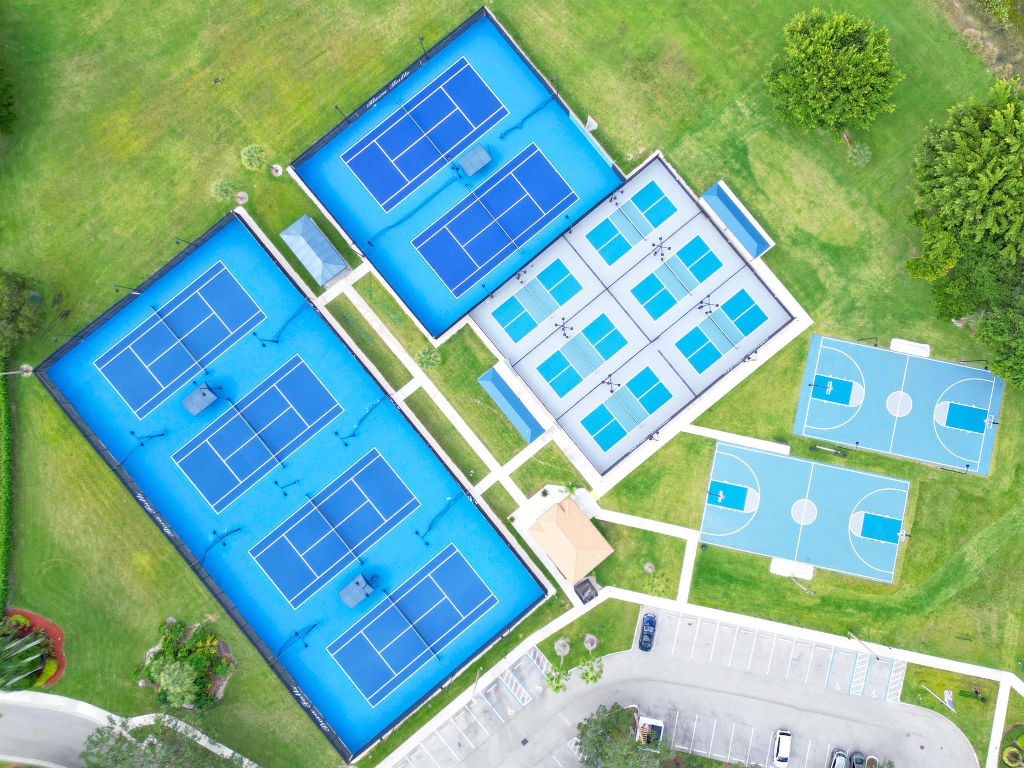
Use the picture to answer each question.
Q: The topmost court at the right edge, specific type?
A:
basketball court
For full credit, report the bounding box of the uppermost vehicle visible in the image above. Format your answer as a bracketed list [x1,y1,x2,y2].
[640,615,656,650]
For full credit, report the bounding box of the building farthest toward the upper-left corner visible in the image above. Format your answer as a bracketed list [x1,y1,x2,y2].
[279,214,348,287]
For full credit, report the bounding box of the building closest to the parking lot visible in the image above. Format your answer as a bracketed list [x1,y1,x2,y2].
[528,496,615,586]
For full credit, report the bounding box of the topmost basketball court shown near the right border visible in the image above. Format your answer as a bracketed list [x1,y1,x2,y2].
[793,335,1005,477]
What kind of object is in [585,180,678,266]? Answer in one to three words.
sports court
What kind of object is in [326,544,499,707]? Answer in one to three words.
tennis court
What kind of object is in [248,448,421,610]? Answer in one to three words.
tennis court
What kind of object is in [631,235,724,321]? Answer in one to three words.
sports court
